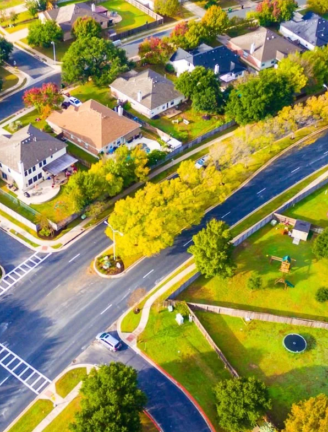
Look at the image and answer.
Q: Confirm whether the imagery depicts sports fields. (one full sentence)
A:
No, the photo shows no sports field.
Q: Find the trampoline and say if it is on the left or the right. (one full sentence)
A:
The trampoline is on the right side of the image.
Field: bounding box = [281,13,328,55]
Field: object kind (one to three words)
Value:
house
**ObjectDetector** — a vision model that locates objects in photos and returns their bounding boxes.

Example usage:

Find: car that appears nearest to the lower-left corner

[95,331,122,351]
